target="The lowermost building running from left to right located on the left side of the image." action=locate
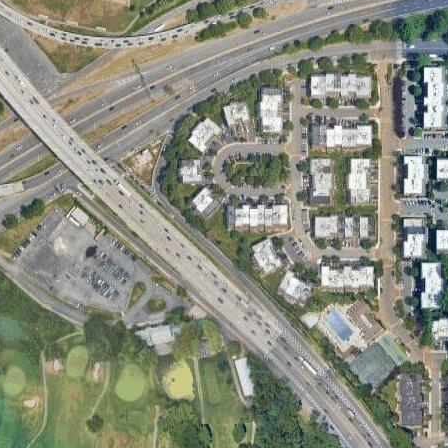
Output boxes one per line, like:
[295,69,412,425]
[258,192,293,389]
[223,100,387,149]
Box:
[136,324,180,344]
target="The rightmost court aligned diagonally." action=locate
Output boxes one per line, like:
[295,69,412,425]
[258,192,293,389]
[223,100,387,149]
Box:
[378,330,409,367]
